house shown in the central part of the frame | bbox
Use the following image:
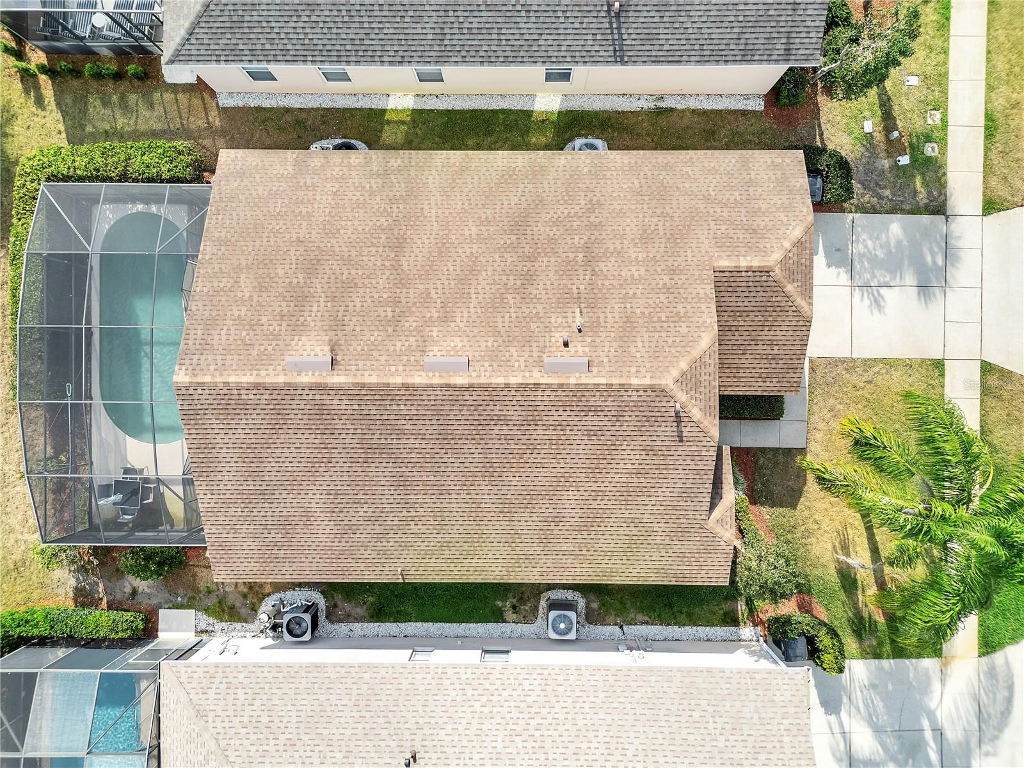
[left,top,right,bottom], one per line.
[174,150,817,584]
